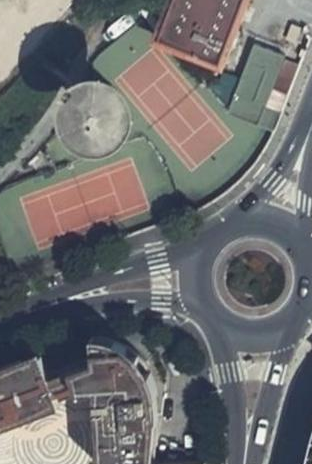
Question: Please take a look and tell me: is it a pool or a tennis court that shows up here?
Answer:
tennis court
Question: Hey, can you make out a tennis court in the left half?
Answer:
Yes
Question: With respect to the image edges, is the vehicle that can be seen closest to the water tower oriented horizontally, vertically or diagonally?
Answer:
diagonally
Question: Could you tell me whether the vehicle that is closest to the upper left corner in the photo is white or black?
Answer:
white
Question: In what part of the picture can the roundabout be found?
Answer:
right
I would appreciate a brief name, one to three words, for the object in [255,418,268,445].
vehicle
